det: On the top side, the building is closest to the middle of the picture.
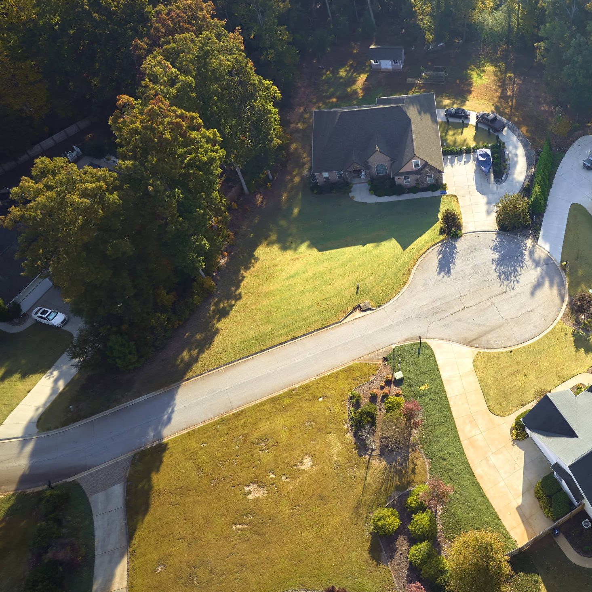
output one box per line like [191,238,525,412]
[309,92,443,186]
